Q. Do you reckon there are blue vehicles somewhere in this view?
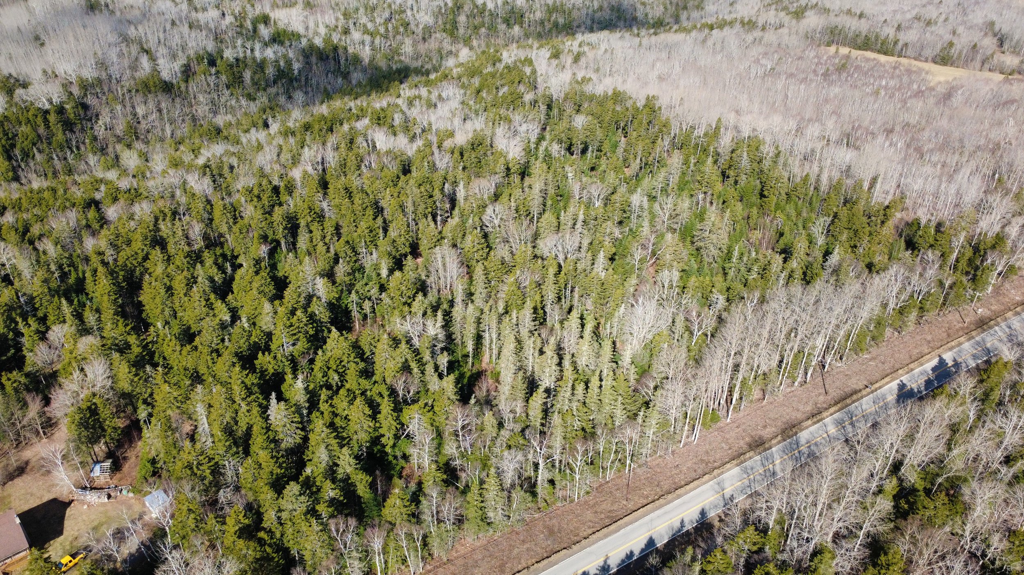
No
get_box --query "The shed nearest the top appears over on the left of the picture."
[87,459,119,481]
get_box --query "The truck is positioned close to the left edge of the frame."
[49,550,86,574]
